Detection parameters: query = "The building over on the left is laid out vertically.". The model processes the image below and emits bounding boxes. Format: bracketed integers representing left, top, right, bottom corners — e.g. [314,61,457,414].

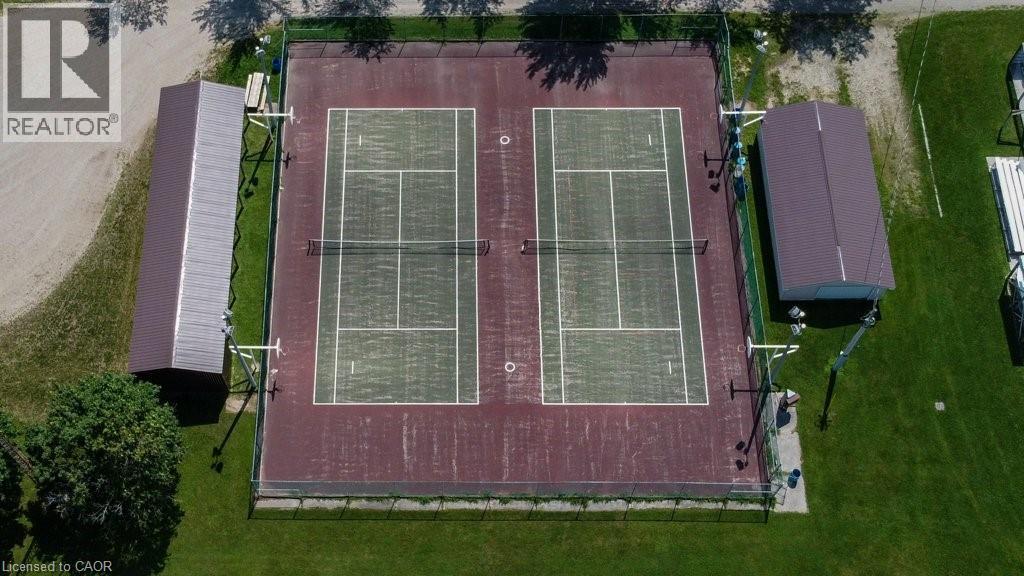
[126,80,250,392]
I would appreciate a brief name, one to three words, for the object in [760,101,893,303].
shed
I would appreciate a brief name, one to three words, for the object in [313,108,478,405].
tennis court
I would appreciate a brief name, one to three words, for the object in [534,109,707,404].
tennis court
